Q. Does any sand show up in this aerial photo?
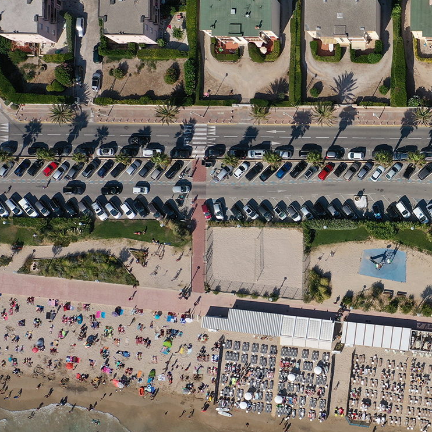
Yes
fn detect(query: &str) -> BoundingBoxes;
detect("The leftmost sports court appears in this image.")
[207,227,302,300]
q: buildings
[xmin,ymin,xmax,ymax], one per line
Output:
[0,0,68,42]
[341,322,432,352]
[201,309,335,350]
[99,0,169,44]
[410,0,432,51]
[200,0,281,50]
[305,0,385,51]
